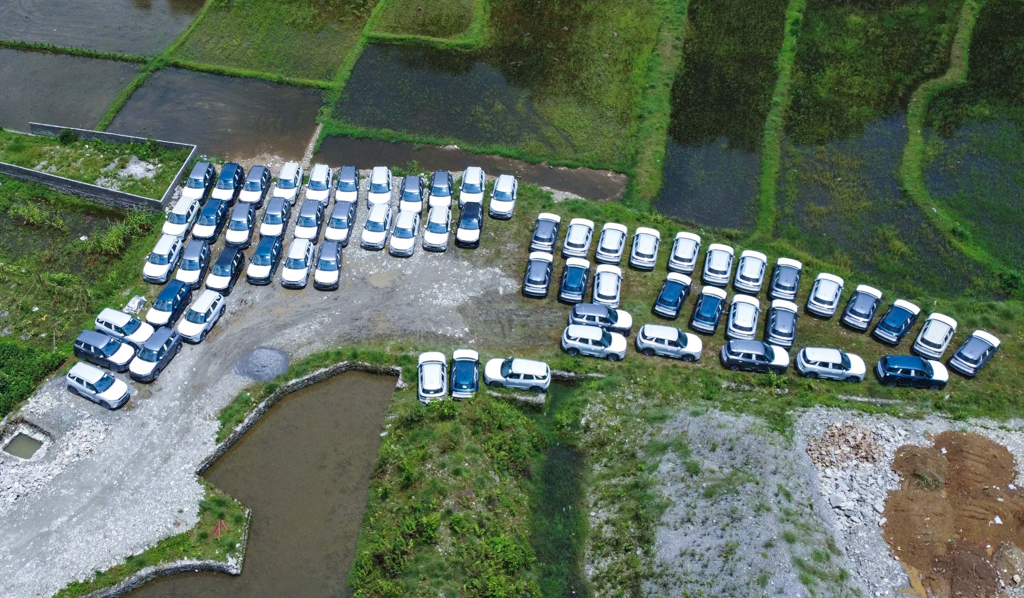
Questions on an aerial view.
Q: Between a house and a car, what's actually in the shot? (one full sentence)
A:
Of the two, only a car appears.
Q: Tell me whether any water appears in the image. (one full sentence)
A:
Yes, water shows up in the scene.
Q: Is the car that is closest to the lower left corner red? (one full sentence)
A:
No, the car that is closest to the lower left corner is actually white.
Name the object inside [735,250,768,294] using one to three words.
car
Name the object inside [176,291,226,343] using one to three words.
car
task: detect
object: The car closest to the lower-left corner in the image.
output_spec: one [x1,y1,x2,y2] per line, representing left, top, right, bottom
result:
[65,362,131,408]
